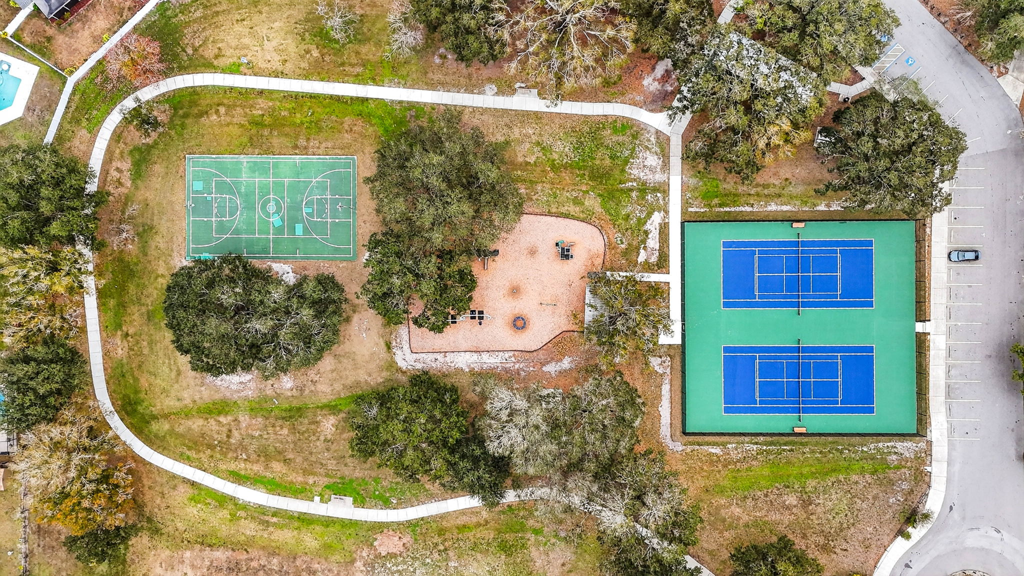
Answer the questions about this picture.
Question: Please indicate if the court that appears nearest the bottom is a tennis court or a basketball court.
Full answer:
I'd say the court that appears nearest the bottom is a tennis court.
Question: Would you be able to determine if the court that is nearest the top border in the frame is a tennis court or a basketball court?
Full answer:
I'd say the court that is nearest the top border is a basketball court.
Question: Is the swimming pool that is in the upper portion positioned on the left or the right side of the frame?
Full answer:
You can find the swimming pool that is in the upper portion on the left side of the picture.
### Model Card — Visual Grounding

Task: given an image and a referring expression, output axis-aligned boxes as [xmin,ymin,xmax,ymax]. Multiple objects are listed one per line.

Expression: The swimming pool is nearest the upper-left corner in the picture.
[0,53,40,125]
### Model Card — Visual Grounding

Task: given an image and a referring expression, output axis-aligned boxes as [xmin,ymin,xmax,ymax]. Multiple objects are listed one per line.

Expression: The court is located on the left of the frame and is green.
[186,155,357,261]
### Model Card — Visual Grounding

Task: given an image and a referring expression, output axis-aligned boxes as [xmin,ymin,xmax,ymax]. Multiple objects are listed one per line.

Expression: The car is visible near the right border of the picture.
[949,249,980,263]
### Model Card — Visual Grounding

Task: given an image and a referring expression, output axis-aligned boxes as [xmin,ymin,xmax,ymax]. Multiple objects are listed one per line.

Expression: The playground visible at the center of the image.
[407,214,606,353]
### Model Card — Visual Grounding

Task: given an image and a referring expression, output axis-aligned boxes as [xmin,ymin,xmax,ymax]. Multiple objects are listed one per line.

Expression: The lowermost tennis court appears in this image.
[685,327,918,434]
